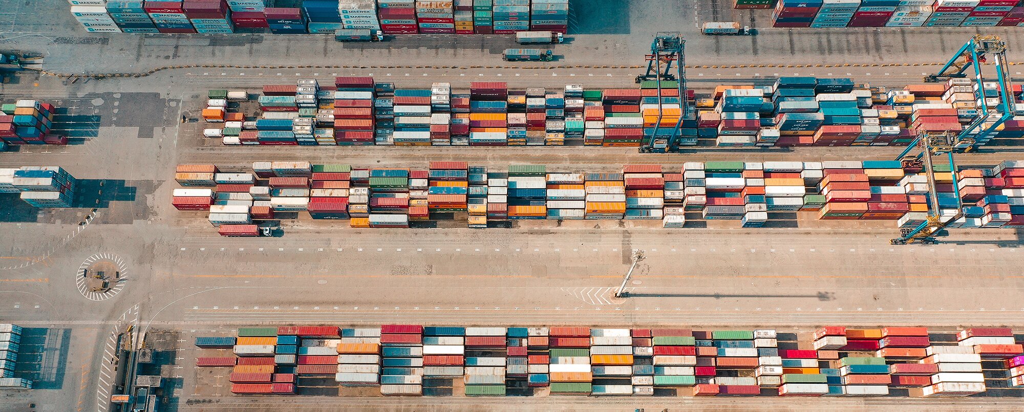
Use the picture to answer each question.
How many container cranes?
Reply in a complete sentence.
Altogether the scene contains 3 container cranes.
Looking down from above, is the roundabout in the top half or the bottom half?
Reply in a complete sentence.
It is in the bottom half that the roundabout appears.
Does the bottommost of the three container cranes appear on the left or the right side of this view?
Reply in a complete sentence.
The bottommost of the three container cranes is on the right side of the image.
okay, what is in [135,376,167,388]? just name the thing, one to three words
building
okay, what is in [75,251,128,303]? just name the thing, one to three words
roundabout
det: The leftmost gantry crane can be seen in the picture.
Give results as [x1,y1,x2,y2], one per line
[635,24,690,155]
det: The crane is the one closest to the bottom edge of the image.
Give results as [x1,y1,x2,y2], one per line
[883,124,965,249]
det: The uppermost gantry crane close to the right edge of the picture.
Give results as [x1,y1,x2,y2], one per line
[921,29,1014,155]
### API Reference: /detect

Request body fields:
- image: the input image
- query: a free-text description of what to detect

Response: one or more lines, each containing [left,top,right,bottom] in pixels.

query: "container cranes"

[635,24,690,155]
[921,29,1014,155]
[883,124,965,249]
